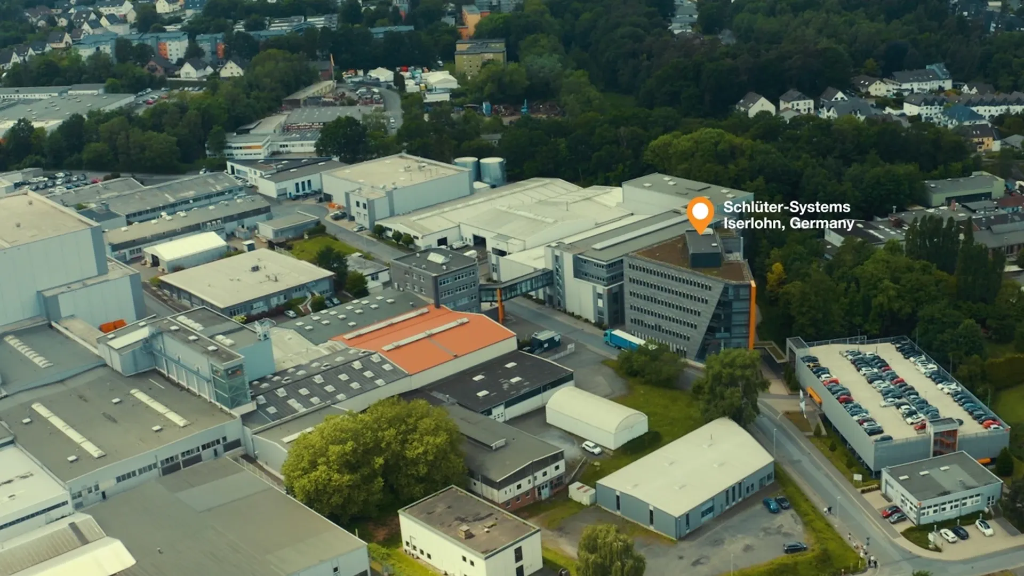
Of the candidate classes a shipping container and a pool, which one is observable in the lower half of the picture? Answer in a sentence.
You can see a shipping container in the lower half of the picture.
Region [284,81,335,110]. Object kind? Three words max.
building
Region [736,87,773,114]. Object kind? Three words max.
house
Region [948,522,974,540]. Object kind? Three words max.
car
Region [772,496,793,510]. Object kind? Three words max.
car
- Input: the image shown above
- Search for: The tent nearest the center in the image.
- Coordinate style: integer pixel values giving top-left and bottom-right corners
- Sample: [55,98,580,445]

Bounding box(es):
[545,383,648,449]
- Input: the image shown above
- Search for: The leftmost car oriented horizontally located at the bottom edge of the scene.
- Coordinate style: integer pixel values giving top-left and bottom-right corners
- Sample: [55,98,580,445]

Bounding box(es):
[781,542,809,554]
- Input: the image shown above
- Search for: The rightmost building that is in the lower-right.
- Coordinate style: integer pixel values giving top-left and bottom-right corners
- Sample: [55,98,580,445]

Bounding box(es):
[880,451,1011,526]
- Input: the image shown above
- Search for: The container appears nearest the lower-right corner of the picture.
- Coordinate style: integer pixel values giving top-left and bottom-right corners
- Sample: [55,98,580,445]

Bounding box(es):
[566,480,596,507]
